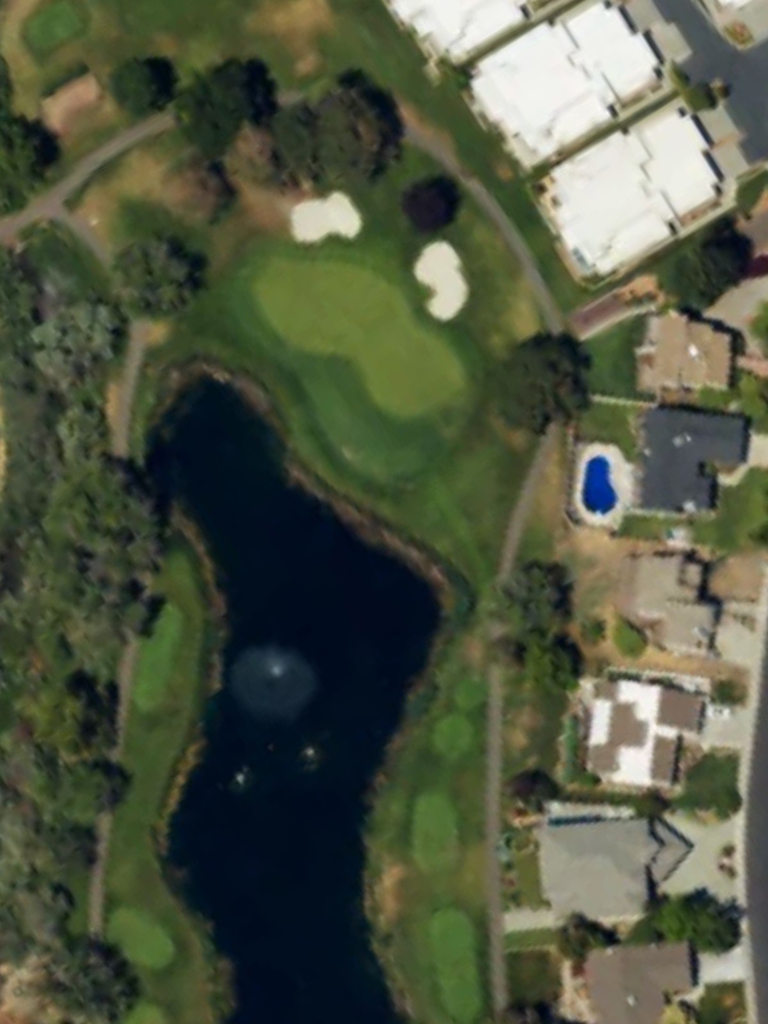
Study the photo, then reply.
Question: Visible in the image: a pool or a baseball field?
pool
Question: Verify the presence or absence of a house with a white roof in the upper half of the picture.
Yes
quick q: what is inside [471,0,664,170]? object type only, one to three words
house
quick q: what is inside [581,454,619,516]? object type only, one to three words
swimming pool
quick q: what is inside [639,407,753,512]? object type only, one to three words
house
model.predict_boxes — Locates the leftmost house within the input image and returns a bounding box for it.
[392,0,534,58]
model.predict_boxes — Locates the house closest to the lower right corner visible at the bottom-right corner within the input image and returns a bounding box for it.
[587,946,695,1024]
